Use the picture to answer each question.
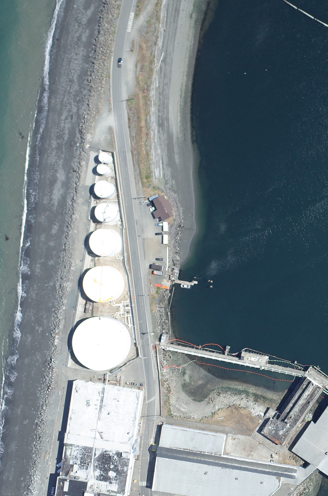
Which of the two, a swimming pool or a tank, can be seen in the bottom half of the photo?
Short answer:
tank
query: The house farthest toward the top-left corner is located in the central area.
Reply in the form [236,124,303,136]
[153,195,174,221]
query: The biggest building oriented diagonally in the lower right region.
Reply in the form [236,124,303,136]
[251,377,325,445]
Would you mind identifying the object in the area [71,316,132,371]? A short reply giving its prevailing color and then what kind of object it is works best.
white storage tank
